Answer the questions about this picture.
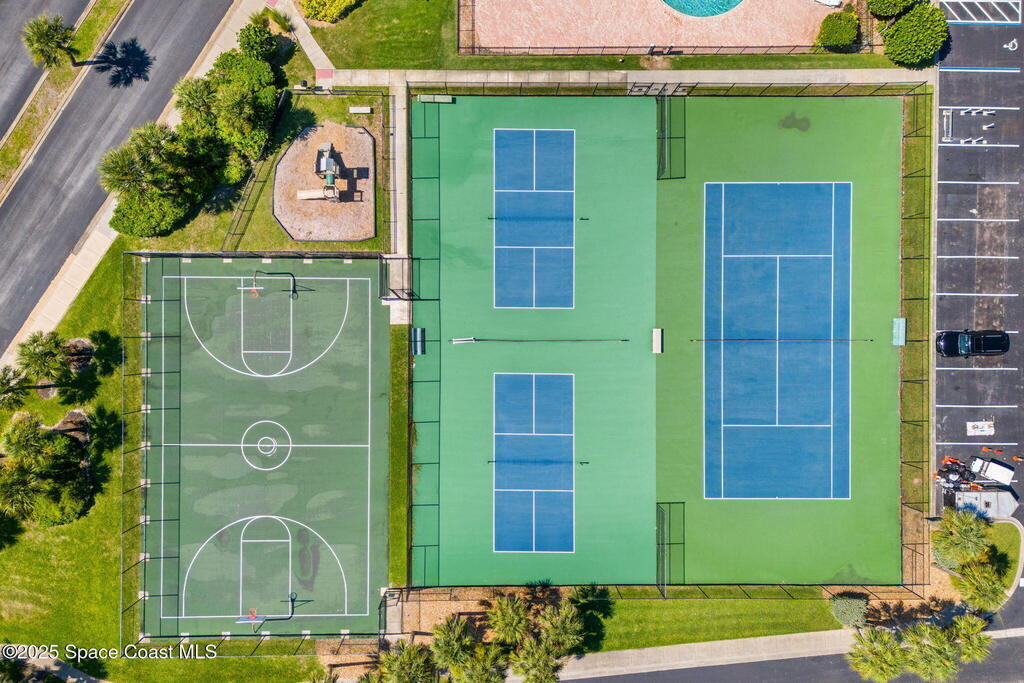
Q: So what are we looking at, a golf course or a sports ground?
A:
sports ground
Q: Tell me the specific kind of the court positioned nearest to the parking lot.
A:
tennis court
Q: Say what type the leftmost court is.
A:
basketball court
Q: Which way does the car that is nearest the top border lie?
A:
from side to side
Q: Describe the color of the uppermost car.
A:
black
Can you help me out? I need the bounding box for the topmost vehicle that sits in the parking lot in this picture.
[936,329,1008,360]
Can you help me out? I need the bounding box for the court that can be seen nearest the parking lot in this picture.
[657,96,901,585]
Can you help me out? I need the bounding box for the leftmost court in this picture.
[140,258,390,640]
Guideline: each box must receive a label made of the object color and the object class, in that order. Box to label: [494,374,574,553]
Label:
blue sports court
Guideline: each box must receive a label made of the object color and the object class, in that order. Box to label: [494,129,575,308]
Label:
blue sports court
